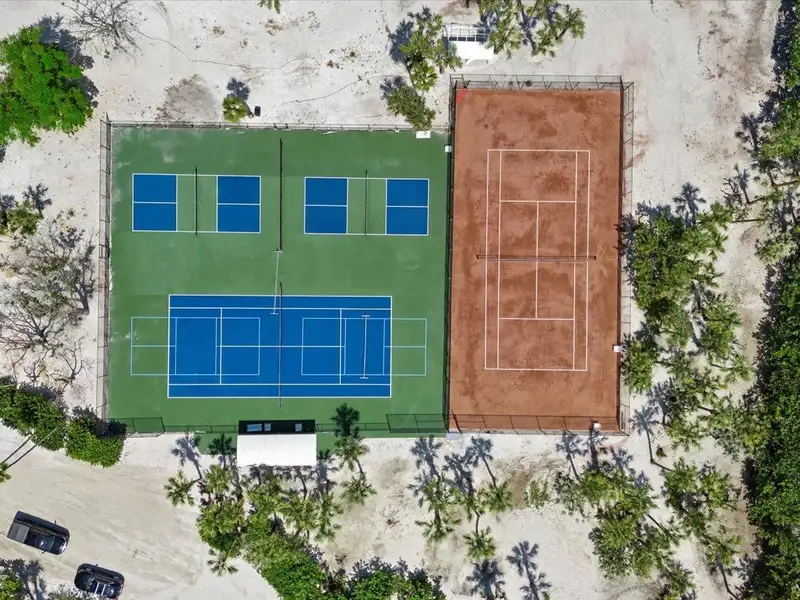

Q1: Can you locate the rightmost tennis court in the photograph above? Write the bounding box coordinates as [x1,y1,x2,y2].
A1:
[451,88,620,430]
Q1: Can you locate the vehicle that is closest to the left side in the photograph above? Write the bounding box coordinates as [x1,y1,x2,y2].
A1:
[9,521,66,554]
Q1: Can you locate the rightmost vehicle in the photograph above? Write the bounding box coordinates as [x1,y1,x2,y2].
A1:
[76,569,125,599]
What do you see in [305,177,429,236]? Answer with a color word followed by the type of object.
blue sports court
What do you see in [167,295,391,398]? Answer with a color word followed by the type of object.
blue tennis court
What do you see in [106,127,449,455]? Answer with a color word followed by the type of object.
green sports court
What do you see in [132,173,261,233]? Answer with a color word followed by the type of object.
blue sports court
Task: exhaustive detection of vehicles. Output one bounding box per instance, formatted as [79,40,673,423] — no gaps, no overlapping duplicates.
[76,569,125,599]
[9,521,66,554]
